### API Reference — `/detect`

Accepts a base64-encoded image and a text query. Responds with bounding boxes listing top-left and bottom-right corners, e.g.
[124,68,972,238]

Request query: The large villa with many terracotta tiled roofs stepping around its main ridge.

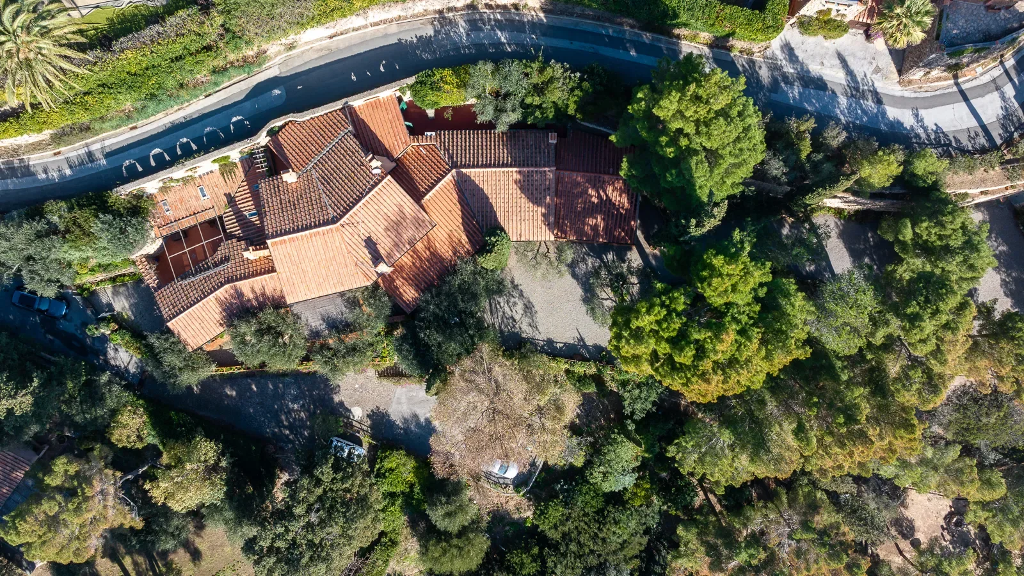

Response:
[133,94,640,350]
